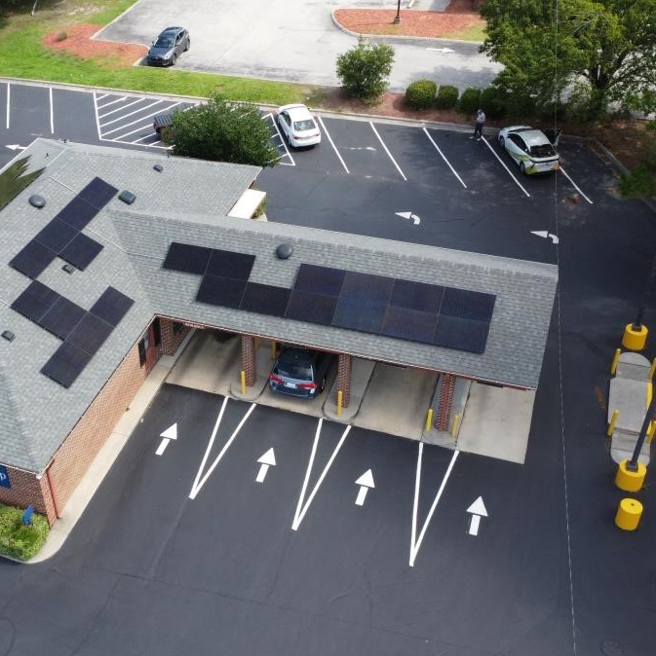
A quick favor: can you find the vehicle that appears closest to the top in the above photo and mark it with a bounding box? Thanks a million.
[148,25,187,61]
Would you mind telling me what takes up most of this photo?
paved ground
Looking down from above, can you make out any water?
No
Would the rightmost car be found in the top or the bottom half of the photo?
top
